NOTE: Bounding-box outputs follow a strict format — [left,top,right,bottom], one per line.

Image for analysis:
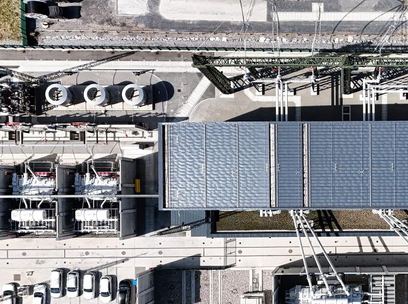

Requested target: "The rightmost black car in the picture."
[117,280,131,304]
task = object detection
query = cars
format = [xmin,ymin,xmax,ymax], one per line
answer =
[32,283,47,304]
[117,280,131,304]
[50,268,65,298]
[2,282,17,304]
[66,270,80,297]
[83,272,98,300]
[99,275,114,302]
